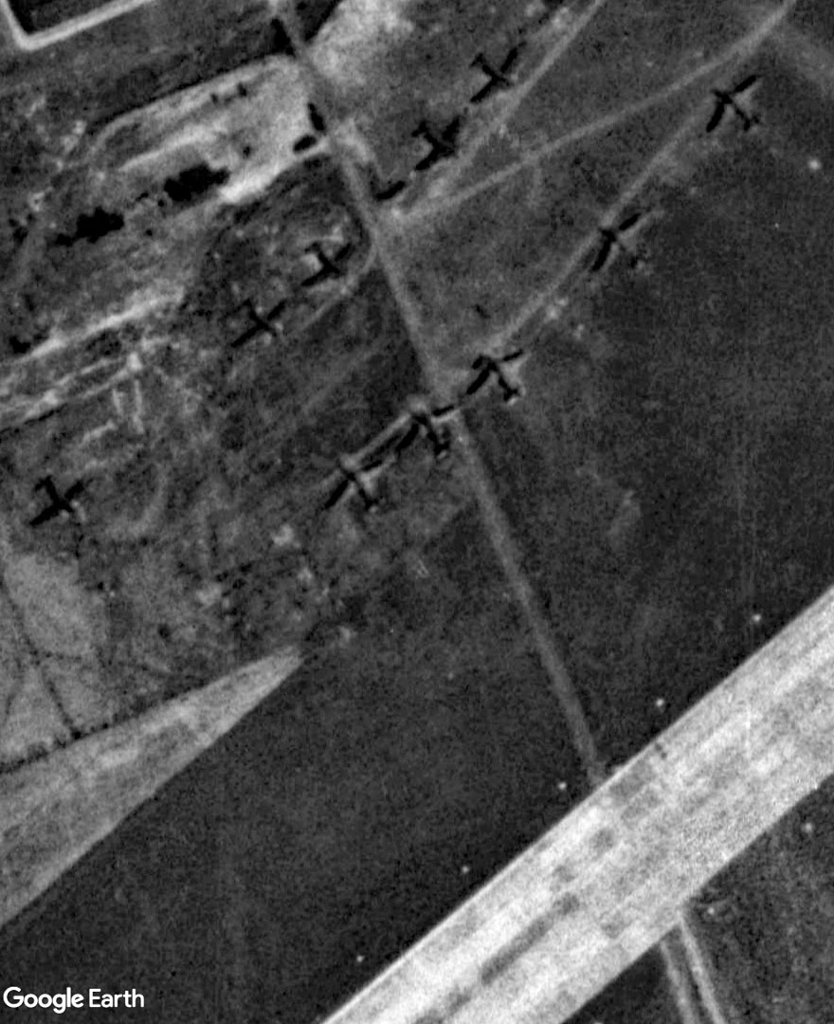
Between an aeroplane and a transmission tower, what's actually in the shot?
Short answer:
aeroplane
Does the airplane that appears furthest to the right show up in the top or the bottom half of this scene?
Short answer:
top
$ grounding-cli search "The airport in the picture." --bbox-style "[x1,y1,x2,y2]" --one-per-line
[0,590,834,1024]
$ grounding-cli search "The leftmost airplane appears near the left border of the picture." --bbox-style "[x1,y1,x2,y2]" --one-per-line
[31,479,86,523]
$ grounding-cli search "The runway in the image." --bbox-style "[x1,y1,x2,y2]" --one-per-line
[321,590,834,1024]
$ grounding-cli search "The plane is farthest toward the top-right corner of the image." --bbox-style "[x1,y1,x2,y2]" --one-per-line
[713,77,768,134]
